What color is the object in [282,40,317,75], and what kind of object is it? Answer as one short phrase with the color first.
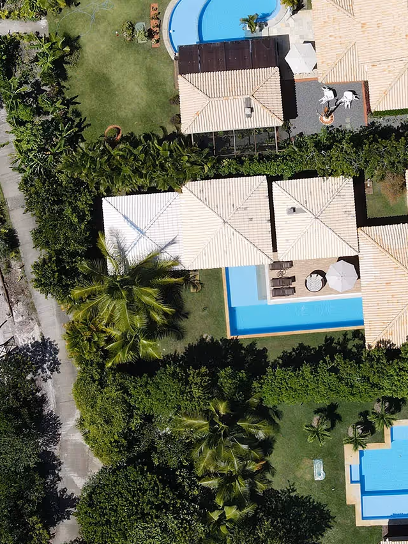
white umbrella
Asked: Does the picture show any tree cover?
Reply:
Yes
